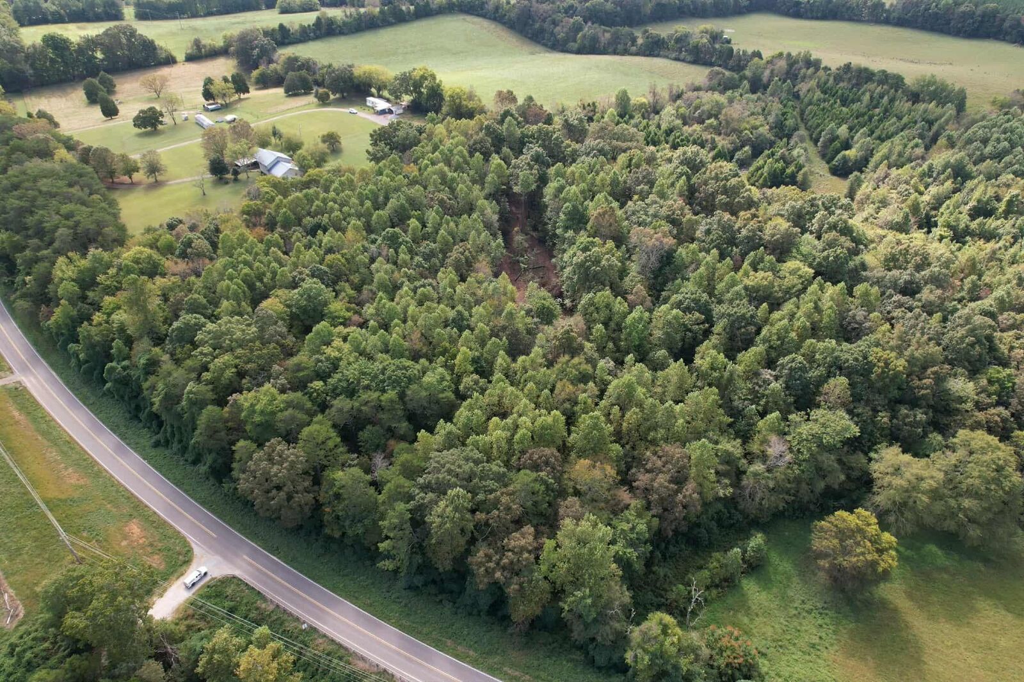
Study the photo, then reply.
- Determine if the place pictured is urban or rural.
rural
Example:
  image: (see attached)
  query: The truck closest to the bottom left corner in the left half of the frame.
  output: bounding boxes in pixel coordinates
[180,565,209,589]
